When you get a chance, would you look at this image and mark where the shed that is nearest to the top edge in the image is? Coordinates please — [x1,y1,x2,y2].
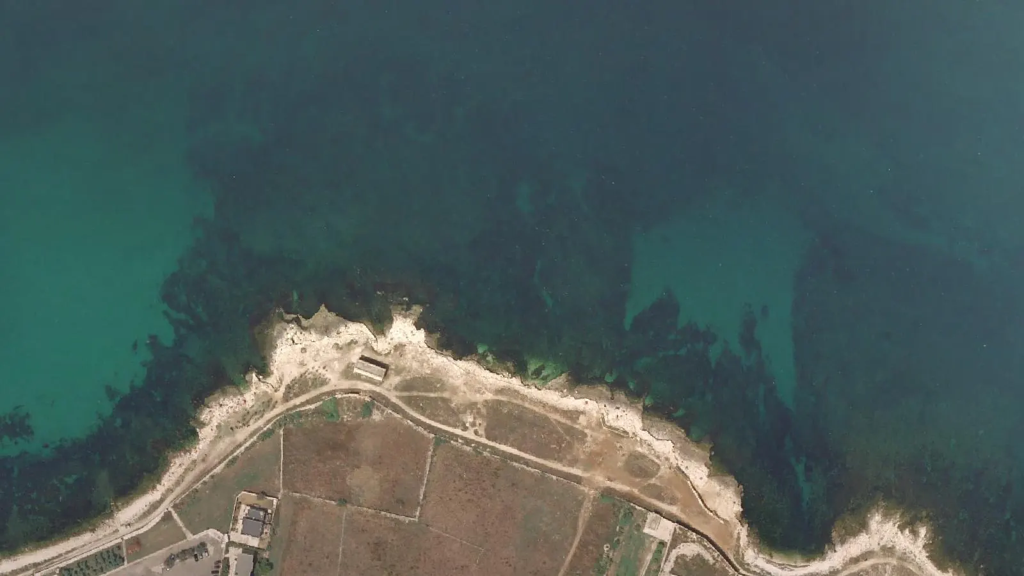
[354,360,386,382]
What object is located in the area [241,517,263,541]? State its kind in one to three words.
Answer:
house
